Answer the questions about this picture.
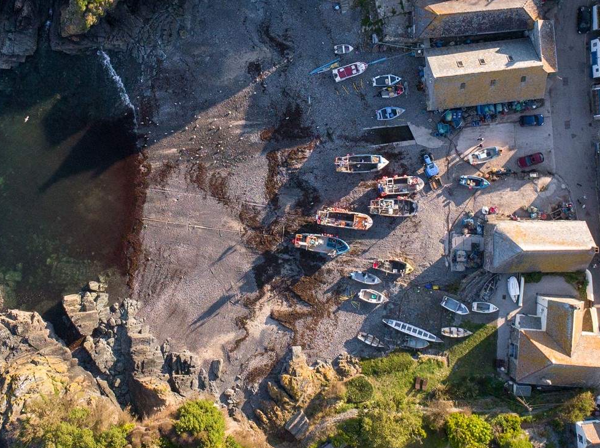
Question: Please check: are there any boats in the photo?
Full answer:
Yes, there is a boat in the image.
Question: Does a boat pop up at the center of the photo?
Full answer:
Yes, a boat appears at the center of the photo.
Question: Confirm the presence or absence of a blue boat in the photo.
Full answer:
Yes, the image includes a blue boat.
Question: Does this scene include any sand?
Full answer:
Yes, some sand is visible.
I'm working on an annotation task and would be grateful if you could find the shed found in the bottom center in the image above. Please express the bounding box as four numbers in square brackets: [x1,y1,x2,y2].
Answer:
[284,407,310,441]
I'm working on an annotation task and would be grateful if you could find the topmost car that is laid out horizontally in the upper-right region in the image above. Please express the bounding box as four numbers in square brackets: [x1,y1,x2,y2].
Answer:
[518,114,544,127]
